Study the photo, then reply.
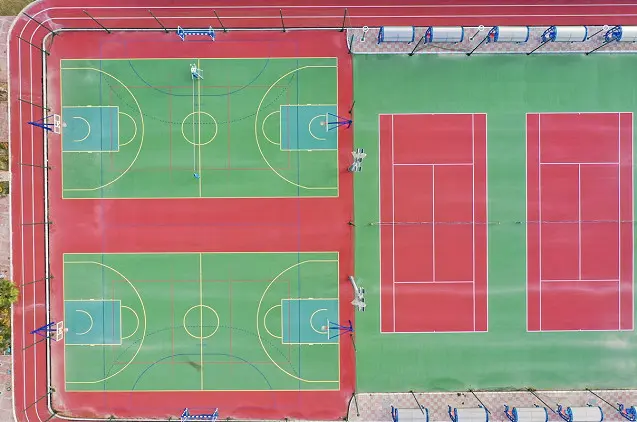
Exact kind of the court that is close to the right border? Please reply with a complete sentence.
Looking closely, the court that is close to the right border is a tennis court.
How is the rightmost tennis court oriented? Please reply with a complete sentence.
In this picture, the rightmost tennis court is oriented vertically.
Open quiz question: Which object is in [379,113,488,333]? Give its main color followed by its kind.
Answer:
red tennis court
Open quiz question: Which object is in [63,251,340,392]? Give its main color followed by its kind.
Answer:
green basketball court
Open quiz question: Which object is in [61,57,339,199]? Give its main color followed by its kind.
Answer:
green basketball court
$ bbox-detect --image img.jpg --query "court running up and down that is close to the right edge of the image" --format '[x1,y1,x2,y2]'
[526,111,634,332]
